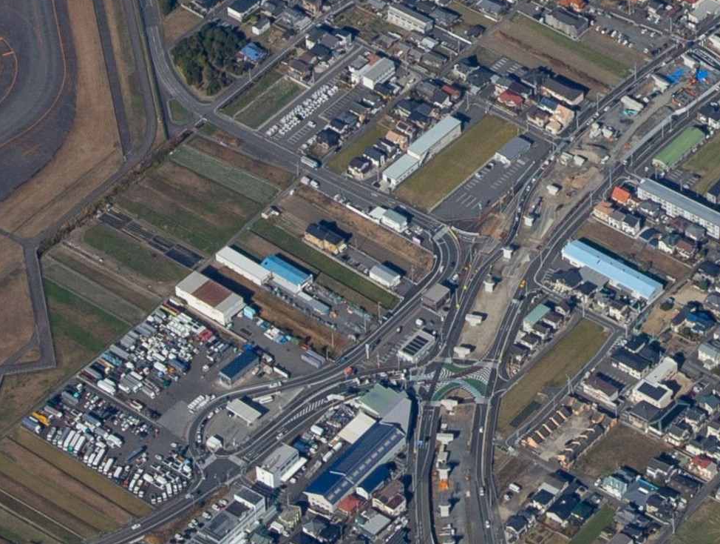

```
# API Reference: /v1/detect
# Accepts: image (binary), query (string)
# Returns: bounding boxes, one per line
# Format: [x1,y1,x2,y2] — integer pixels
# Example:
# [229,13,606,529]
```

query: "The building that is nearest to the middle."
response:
[368,262,402,291]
